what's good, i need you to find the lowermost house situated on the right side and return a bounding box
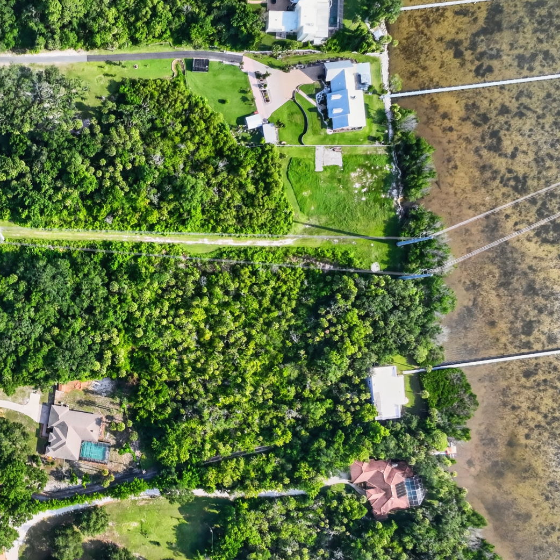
[349,459,414,517]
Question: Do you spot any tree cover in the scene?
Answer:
Yes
